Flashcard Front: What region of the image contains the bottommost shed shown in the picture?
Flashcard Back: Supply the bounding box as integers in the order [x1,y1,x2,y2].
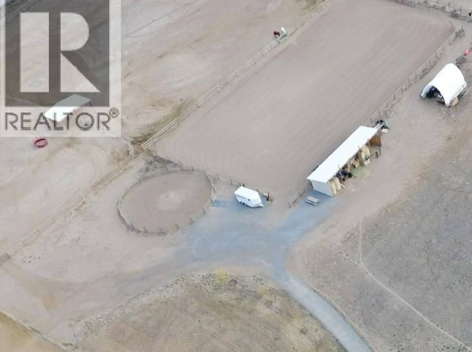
[307,125,380,197]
